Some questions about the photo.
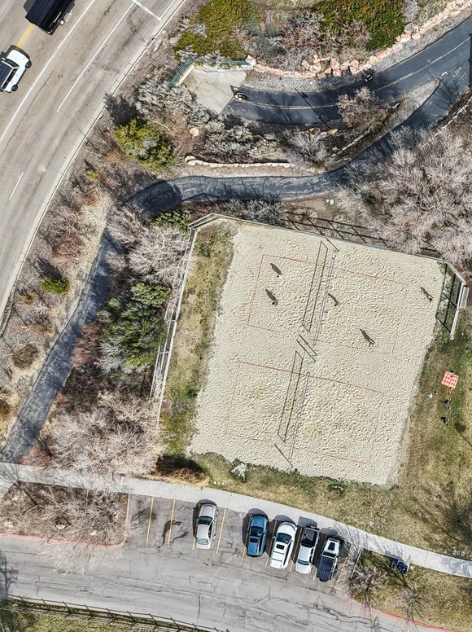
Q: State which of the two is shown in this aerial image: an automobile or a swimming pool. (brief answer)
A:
automobile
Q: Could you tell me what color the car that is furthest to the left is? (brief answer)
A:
white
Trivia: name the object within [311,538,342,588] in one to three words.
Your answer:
car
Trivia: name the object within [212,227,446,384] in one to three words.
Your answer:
sports court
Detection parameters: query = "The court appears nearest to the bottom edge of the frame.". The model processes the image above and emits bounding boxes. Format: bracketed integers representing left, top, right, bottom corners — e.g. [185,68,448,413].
[189,336,419,485]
